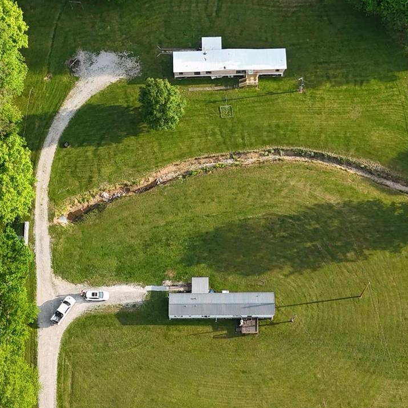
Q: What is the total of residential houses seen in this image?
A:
2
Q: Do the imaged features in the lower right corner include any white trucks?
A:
No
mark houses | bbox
[173,37,288,79]
[168,277,275,320]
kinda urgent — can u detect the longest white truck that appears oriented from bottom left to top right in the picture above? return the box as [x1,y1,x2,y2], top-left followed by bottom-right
[48,295,77,327]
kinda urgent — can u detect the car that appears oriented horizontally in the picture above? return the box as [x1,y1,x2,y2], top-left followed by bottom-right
[83,289,109,301]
